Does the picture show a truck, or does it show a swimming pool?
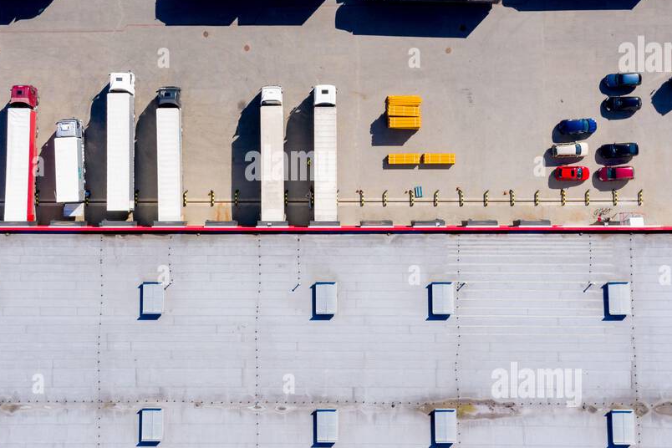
truck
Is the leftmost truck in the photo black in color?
No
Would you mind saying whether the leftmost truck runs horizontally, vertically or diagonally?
vertically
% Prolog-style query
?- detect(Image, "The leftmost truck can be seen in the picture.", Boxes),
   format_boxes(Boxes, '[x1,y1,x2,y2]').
[4,86,40,221]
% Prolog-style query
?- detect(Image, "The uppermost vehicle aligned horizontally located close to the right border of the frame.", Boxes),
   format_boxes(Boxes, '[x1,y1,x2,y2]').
[604,70,642,88]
